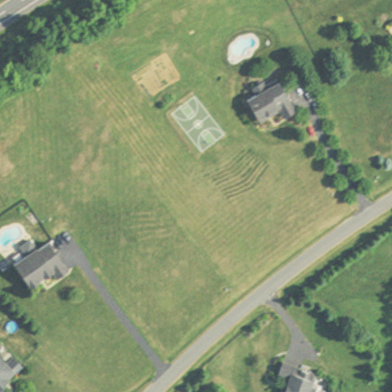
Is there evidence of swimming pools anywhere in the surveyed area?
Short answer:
Yes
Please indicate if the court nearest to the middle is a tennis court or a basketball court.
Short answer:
basketball court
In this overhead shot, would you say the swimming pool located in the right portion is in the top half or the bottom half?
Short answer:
top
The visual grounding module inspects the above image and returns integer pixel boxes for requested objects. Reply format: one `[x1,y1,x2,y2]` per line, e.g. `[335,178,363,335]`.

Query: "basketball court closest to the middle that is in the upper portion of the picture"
[171,96,225,153]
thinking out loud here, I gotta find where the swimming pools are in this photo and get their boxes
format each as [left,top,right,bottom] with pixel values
[6,322,18,333]
[228,34,260,64]
[0,224,32,258]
